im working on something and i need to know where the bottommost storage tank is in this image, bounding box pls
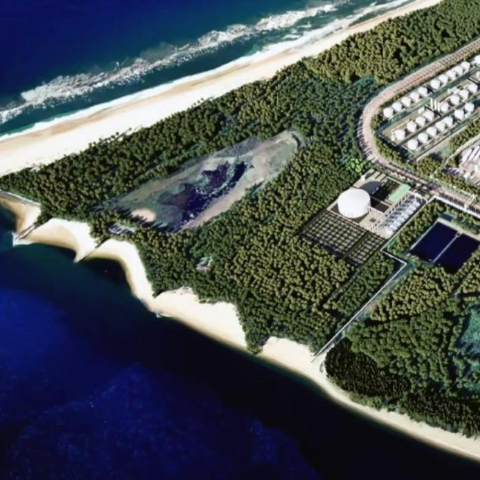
[337,188,371,219]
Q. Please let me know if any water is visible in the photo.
Yes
